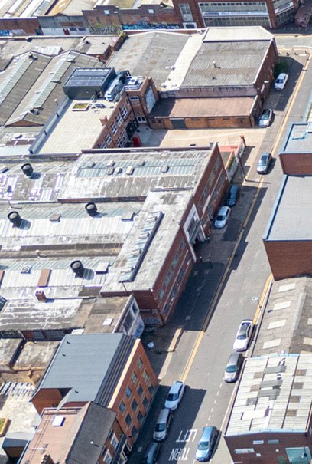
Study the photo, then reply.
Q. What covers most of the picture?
buildings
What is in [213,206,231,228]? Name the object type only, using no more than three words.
car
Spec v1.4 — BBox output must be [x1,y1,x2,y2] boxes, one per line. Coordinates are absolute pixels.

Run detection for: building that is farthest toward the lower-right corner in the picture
[225,350,312,458]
